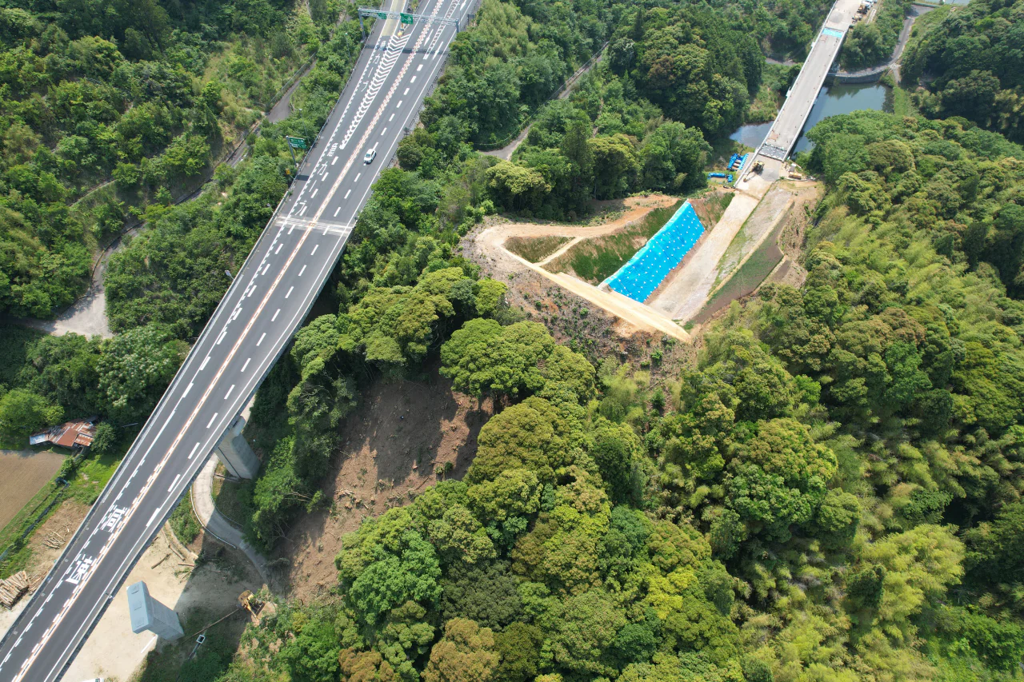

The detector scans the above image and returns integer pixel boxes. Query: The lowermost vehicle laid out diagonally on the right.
[745,157,766,180]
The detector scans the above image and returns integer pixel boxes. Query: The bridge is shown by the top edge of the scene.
[737,0,848,192]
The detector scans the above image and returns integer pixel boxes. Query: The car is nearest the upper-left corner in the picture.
[361,147,376,163]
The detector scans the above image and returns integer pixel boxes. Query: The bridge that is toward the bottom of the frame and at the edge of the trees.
[0,237,353,682]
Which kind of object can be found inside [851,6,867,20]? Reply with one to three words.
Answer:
vehicle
